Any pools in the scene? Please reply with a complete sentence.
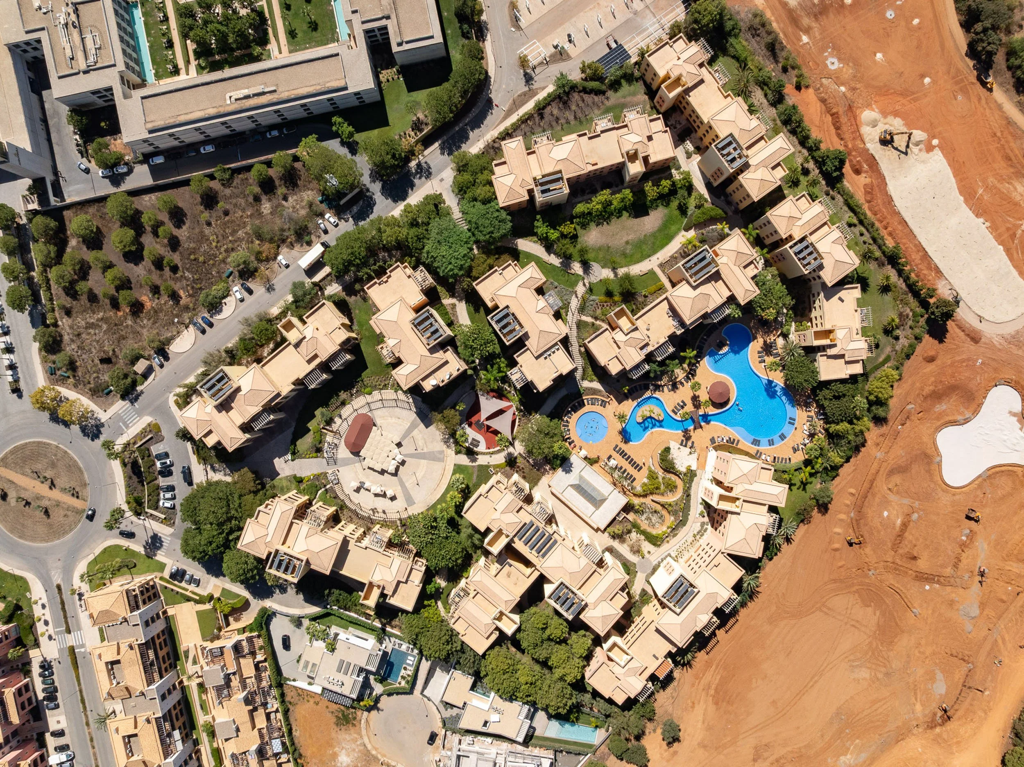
Yes, the photo shows a pool.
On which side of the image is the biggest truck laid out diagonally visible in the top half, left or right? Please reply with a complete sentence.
It is on the left.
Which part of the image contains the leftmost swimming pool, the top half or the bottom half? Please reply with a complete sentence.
The leftmost swimming pool is in the top half of the image.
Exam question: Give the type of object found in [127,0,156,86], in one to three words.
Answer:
swimming pool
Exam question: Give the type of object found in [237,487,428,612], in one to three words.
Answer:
building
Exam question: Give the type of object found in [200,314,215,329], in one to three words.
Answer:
car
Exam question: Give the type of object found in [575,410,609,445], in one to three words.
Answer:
swimming pool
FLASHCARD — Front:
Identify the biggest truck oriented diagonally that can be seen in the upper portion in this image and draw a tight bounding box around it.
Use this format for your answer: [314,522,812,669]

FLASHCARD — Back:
[295,241,329,273]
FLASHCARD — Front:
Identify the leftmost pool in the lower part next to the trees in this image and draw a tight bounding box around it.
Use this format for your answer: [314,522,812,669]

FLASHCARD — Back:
[381,647,417,684]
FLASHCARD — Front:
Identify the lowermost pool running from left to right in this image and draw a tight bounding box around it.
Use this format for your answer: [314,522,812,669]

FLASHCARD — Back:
[541,717,600,745]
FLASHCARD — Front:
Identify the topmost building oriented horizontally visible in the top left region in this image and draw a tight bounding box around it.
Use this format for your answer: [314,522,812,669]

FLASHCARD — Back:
[0,0,446,205]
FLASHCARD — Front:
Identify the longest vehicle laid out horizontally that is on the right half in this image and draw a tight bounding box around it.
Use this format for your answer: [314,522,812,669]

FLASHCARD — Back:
[879,129,909,142]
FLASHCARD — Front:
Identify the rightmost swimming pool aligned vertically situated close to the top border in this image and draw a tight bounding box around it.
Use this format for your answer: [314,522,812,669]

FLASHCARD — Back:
[331,0,351,42]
